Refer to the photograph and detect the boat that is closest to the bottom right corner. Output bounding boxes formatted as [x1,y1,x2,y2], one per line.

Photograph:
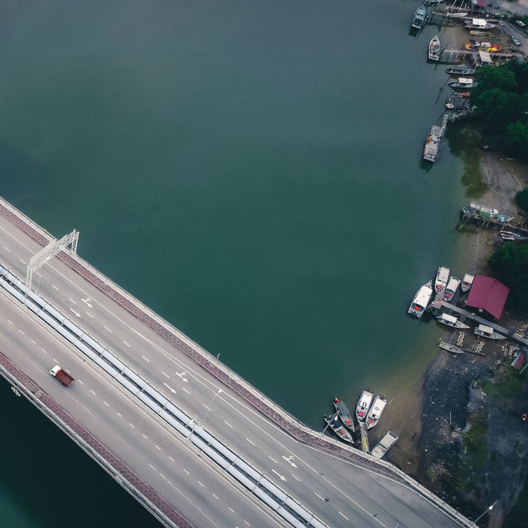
[371,428,400,458]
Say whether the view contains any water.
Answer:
Yes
